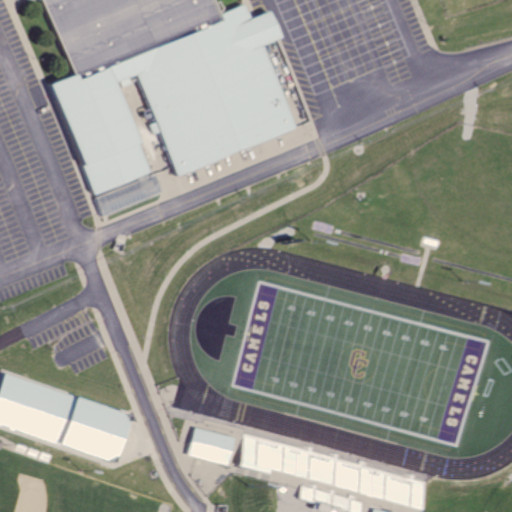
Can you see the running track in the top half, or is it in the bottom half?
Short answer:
bottom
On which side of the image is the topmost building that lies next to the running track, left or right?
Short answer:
left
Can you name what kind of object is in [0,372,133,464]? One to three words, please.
building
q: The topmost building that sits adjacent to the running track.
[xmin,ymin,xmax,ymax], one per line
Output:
[40,0,296,211]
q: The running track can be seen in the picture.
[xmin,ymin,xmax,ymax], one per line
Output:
[168,248,512,478]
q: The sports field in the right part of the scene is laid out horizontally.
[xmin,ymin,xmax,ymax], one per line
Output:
[191,270,512,456]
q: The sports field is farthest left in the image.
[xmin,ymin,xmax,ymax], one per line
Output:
[0,451,160,512]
